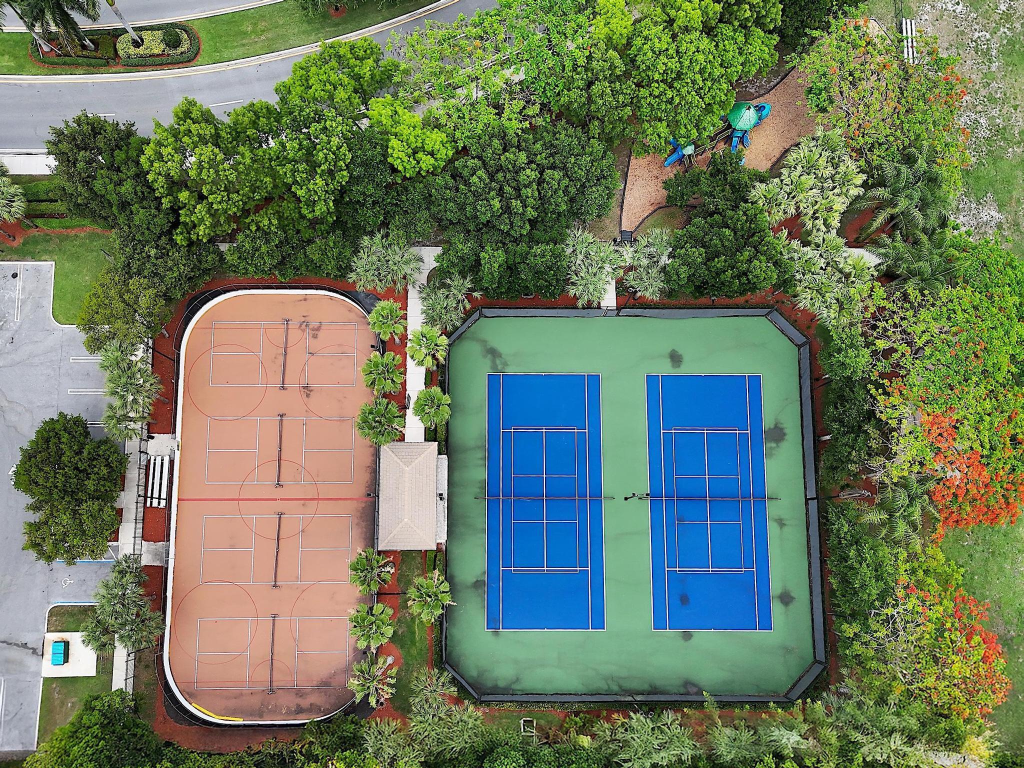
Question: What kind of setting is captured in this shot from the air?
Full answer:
What you see here is a sports ground.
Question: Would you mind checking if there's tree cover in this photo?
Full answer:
Yes, tree cover shows up in the scene.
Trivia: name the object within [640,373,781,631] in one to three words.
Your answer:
tennis court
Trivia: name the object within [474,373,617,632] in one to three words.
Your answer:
tennis court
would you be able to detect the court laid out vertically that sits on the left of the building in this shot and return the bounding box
[151,283,380,733]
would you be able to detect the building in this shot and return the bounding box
[378,441,439,551]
